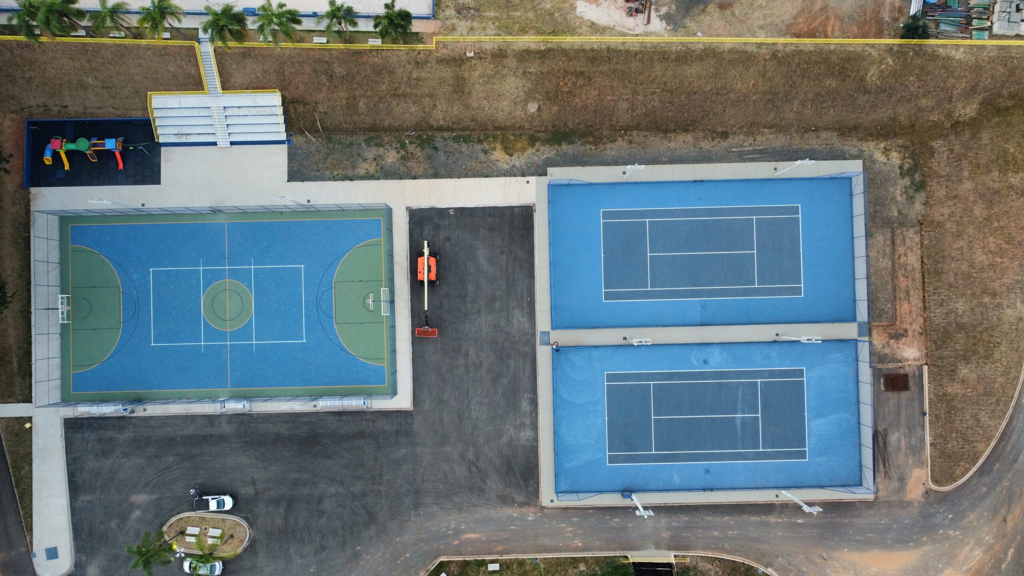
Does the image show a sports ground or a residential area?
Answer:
sports ground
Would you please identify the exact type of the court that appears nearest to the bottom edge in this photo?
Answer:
tennis court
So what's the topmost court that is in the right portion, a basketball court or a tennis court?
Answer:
tennis court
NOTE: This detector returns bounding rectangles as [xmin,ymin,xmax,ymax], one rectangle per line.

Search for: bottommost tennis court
[553,340,863,492]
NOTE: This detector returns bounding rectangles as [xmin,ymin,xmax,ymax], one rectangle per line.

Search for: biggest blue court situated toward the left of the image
[61,209,395,401]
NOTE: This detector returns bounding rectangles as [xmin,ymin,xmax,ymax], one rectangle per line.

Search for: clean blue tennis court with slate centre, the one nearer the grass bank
[550,176,857,329]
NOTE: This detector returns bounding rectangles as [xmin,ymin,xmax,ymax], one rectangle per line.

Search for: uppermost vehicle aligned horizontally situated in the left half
[194,495,234,513]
